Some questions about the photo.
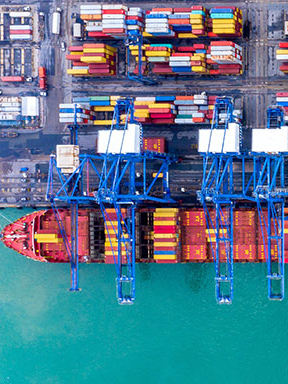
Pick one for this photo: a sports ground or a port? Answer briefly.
port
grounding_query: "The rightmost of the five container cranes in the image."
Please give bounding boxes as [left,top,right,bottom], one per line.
[247,99,288,300]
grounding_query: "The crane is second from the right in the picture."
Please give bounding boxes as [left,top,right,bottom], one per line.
[193,88,267,303]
